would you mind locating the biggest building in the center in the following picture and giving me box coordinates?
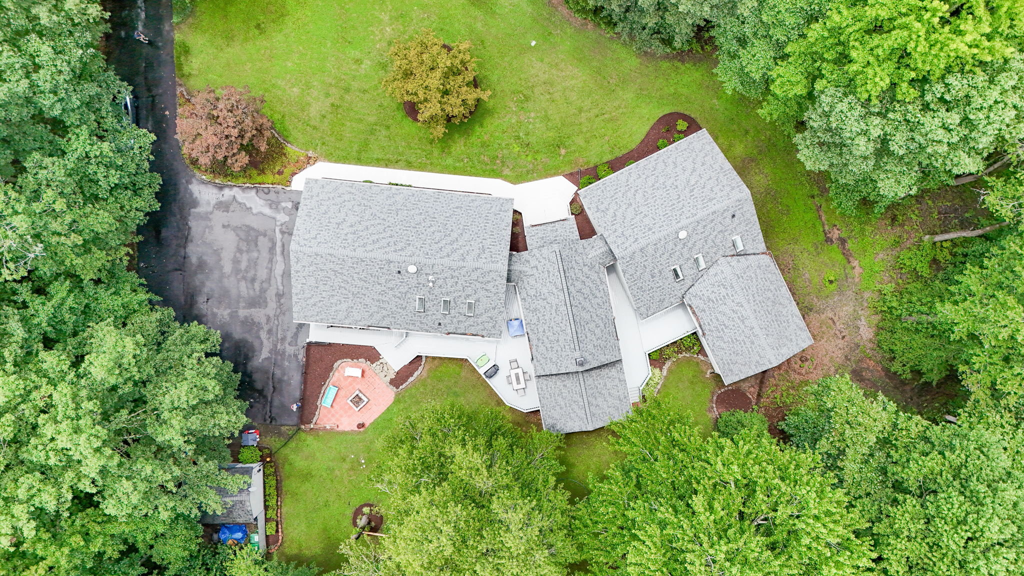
[291,127,815,431]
